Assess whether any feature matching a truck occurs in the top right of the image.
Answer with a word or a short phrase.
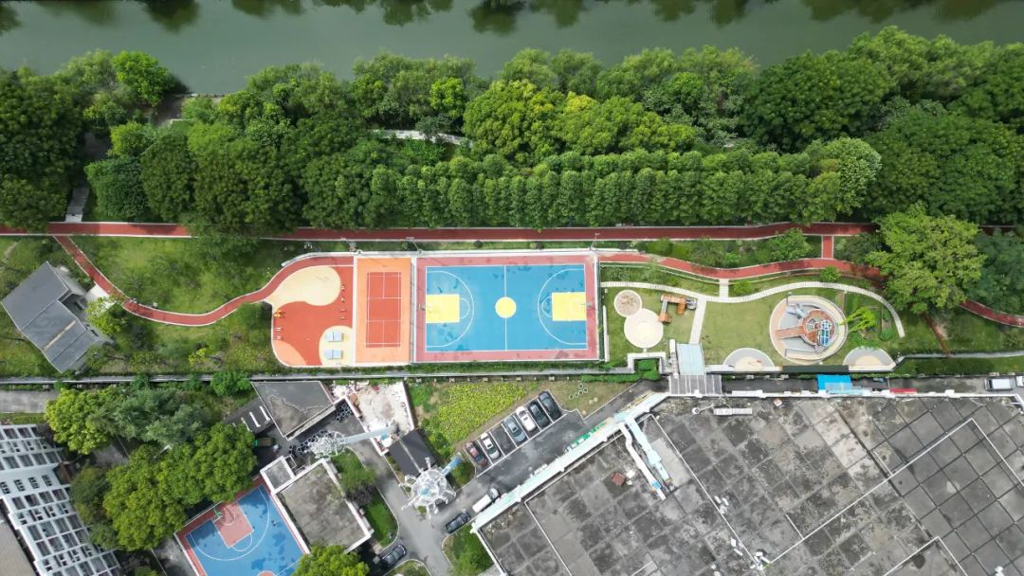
No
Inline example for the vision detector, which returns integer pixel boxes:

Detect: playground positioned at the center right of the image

[767,292,848,366]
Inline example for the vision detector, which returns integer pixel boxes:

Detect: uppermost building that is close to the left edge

[0,261,120,376]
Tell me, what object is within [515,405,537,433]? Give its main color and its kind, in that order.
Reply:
white car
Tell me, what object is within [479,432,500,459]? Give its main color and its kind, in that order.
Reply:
white car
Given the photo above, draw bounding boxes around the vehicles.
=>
[539,391,562,420]
[254,436,284,447]
[503,415,525,443]
[479,432,500,459]
[444,510,473,533]
[464,441,486,467]
[980,379,1015,390]
[469,486,500,512]
[528,400,551,428]
[515,405,537,433]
